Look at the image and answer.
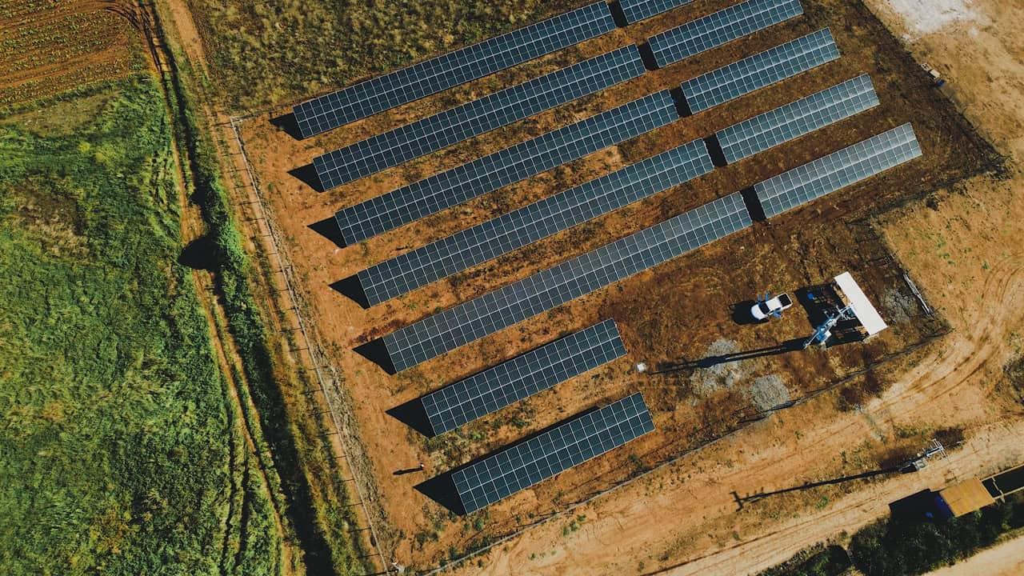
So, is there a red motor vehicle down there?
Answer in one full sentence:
No, no red motor vehicle can be seen from above.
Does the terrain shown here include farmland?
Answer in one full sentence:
Yes, there's farmland in this view.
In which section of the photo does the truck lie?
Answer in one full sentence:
The truck is in the right part of the image.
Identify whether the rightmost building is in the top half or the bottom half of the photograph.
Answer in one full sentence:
The rightmost building is in the bottom half of the image.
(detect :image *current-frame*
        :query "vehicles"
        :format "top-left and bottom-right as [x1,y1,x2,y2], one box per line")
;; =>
[748,293,795,325]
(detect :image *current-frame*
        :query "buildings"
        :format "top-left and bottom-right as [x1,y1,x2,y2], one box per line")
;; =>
[933,463,1024,519]
[824,272,888,340]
